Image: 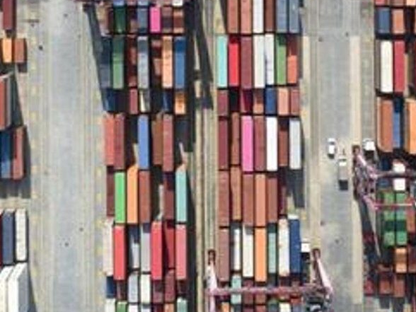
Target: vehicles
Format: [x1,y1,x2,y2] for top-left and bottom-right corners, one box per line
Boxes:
[302,238,310,285]
[364,138,377,168]
[338,157,348,182]
[327,139,335,158]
